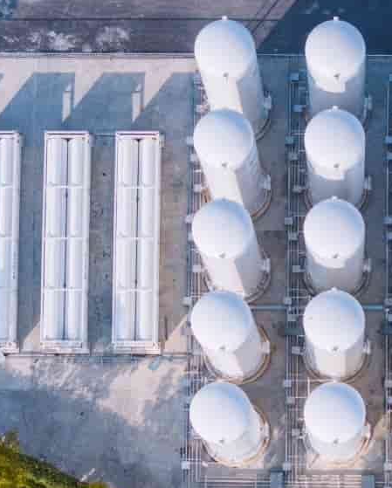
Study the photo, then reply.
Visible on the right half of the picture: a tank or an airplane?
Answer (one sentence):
The one visible on the right half of the picture is a tank.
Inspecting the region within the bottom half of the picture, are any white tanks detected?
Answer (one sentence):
Yes, there is a white tank within the bottom half of the picture.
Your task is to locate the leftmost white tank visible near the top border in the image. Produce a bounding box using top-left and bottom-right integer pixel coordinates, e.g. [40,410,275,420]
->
[194,16,272,136]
